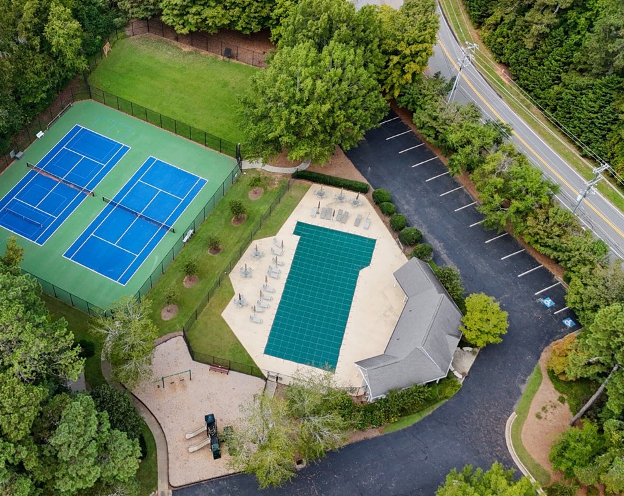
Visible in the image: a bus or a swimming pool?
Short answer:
swimming pool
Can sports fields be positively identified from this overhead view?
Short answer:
Yes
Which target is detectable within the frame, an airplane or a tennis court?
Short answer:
tennis court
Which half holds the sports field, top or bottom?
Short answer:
top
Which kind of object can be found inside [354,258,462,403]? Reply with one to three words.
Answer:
building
